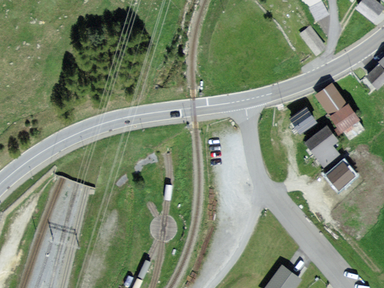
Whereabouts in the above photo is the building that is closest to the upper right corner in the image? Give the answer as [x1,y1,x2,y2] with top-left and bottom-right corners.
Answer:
[355,0,384,24]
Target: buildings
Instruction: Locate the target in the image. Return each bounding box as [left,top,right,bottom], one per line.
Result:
[315,83,346,114]
[309,1,330,22]
[365,64,384,90]
[305,126,346,168]
[290,107,317,134]
[322,158,360,194]
[299,26,326,56]
[328,104,360,134]
[355,0,384,24]
[266,265,302,288]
